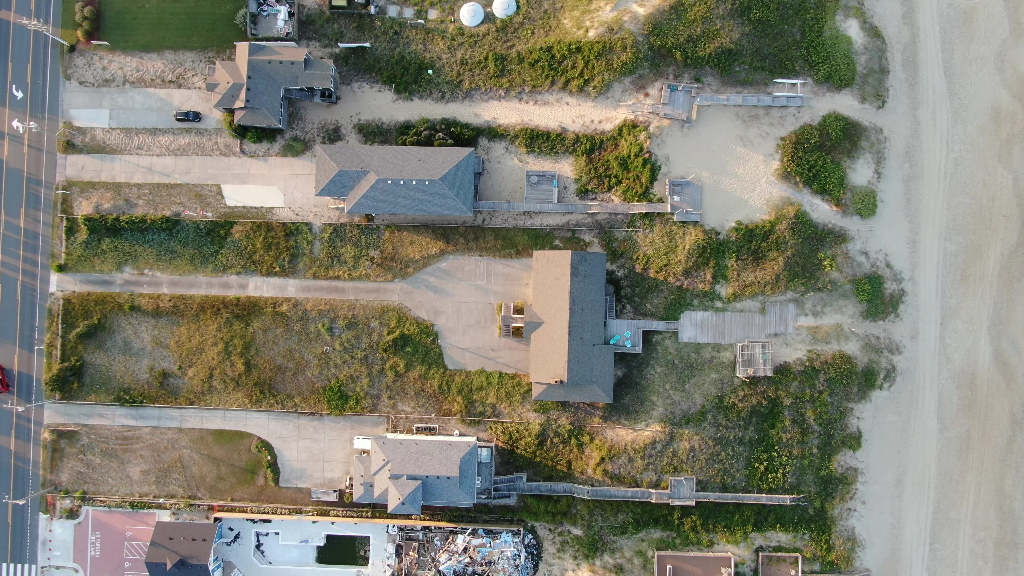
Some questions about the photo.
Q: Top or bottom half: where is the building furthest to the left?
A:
bottom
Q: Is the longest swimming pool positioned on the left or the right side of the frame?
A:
left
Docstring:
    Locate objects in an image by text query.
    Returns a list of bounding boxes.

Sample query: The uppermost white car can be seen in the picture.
[347,437,371,452]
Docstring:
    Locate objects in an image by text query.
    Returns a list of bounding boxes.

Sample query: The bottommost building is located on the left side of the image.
[144,520,231,576]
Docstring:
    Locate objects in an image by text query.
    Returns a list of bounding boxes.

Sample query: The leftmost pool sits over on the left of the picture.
[252,529,372,571]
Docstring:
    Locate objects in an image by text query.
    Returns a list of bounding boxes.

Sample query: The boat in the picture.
[773,79,808,96]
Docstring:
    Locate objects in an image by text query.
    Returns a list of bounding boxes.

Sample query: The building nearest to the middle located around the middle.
[523,250,615,404]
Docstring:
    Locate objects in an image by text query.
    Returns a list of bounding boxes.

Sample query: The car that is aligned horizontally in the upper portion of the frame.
[172,108,200,122]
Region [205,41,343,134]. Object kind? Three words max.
house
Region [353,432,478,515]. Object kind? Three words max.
house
